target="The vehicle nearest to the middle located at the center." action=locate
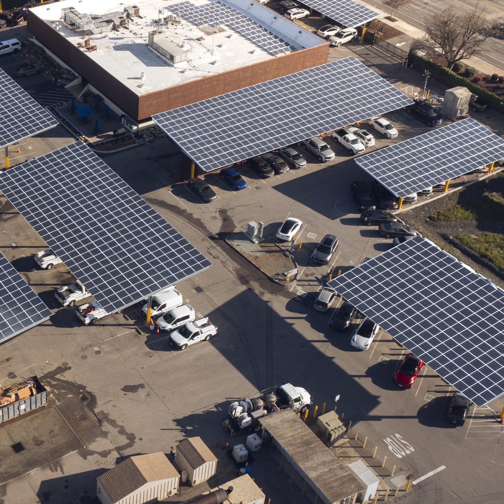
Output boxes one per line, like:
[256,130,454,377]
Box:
[271,217,304,243]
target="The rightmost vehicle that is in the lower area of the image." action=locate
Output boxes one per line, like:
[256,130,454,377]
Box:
[443,390,475,426]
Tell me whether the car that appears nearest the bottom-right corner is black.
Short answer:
Yes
